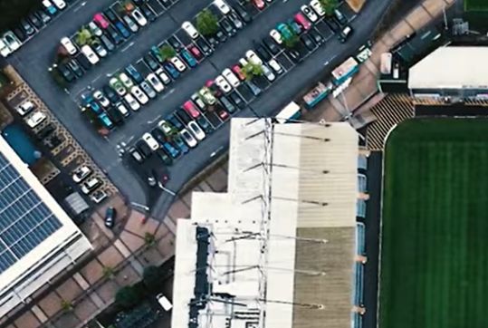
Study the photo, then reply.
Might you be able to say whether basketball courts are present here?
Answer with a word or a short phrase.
No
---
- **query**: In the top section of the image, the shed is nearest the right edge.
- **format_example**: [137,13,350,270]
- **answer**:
[397,27,431,62]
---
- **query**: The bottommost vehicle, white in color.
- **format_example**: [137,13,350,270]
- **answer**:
[155,291,171,312]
